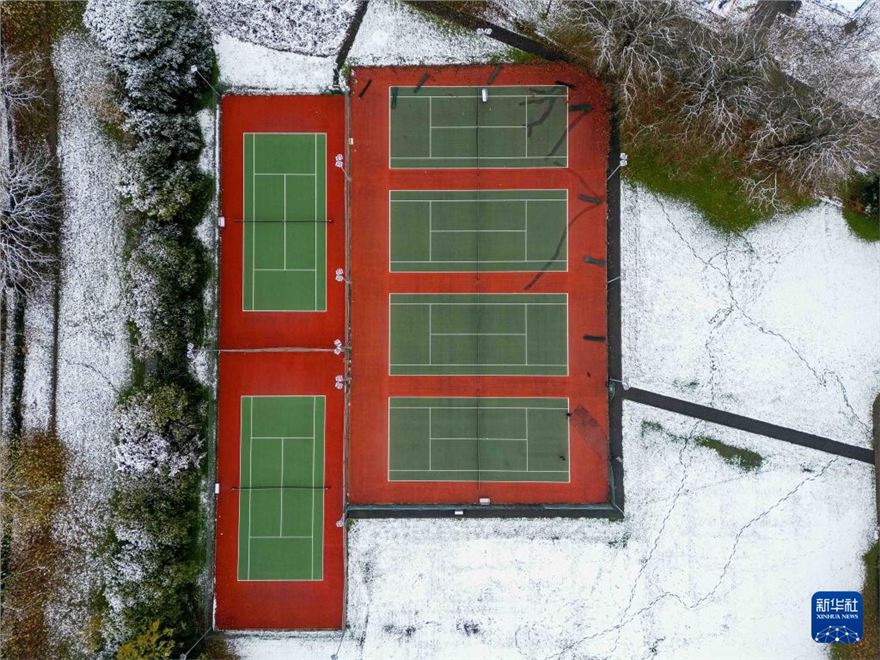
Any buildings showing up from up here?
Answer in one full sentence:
No, the frame has no building in it.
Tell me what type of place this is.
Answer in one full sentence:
This looks like a sports ground.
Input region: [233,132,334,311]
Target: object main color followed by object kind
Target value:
green tennis court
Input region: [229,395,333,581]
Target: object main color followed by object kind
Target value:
green tennis court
